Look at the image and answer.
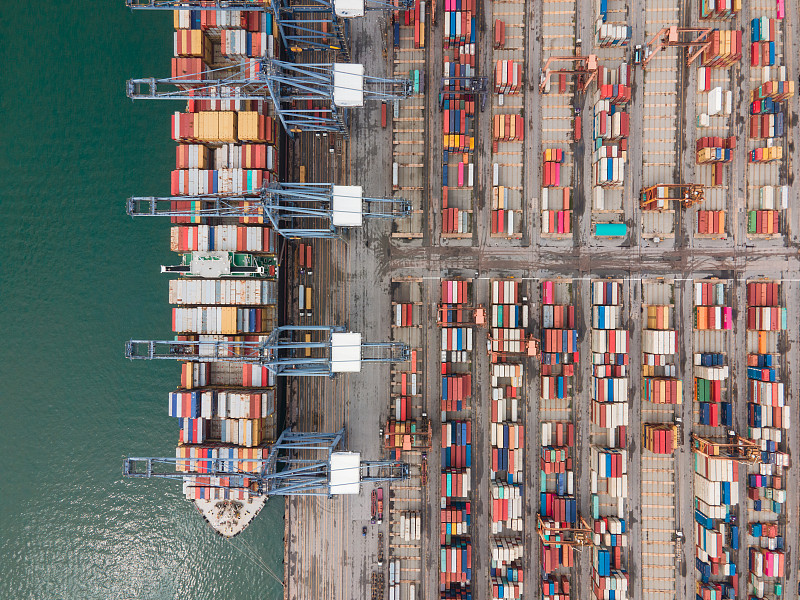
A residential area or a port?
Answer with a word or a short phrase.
port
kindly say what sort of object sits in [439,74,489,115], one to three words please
container crane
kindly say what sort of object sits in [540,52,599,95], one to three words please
container crane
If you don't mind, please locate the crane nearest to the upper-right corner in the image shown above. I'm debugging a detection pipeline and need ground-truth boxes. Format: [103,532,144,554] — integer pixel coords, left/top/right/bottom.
[642,20,712,67]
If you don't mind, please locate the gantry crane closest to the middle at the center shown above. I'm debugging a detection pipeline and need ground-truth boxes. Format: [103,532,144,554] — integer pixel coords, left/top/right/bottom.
[438,302,488,328]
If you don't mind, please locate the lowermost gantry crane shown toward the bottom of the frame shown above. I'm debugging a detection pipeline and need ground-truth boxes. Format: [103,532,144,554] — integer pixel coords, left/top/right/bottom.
[538,507,593,548]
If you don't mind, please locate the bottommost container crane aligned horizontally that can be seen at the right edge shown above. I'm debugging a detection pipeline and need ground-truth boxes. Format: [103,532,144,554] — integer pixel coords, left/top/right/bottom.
[692,432,766,466]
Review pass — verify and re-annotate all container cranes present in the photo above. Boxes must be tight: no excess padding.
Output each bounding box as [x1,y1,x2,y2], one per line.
[692,432,766,466]
[118,416,403,500]
[438,302,488,328]
[641,182,706,210]
[122,0,406,70]
[488,331,542,359]
[120,182,405,248]
[538,507,593,548]
[540,52,599,95]
[384,414,432,449]
[642,20,712,67]
[439,74,489,115]
[119,316,404,380]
